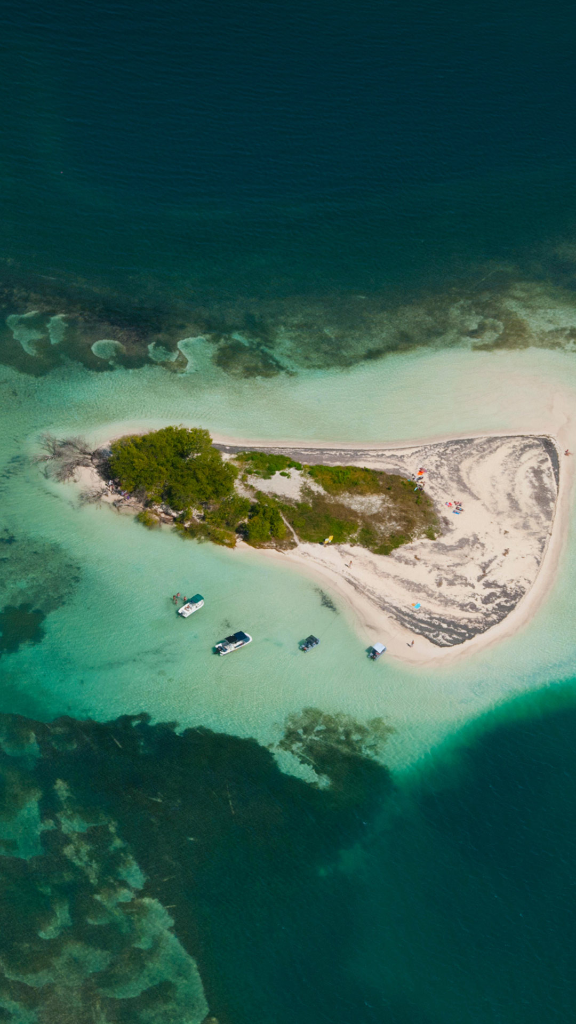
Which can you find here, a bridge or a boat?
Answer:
boat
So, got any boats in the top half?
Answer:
No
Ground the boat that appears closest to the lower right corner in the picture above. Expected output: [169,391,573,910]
[367,641,387,661]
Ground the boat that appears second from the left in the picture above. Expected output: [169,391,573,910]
[215,632,252,656]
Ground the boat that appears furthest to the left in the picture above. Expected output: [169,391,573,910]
[175,594,206,621]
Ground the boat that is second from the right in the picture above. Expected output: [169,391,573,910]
[300,635,320,653]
